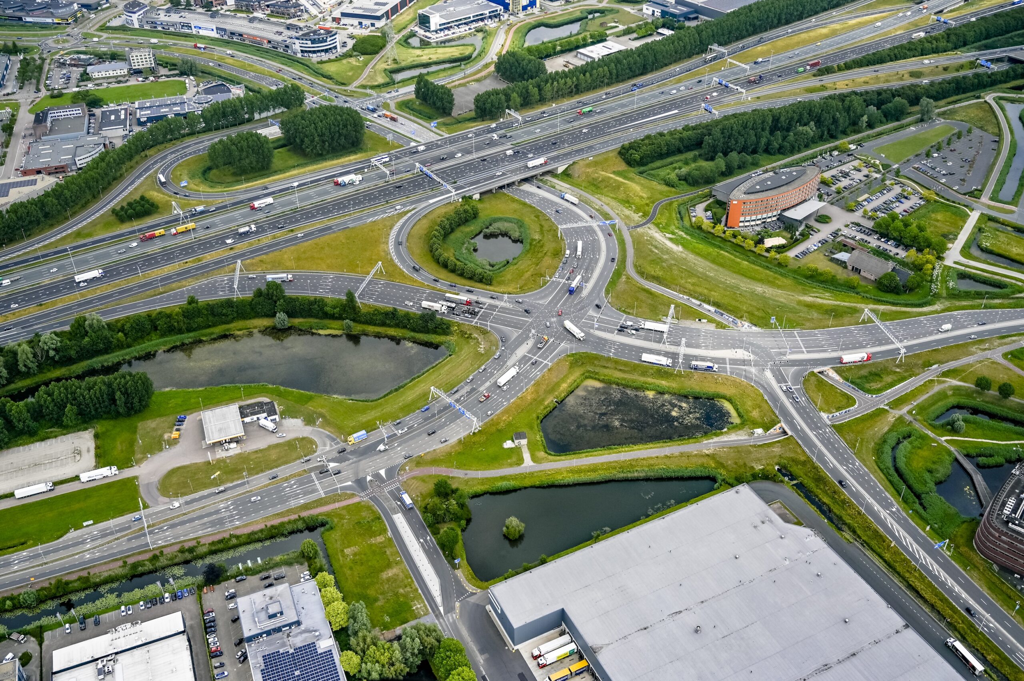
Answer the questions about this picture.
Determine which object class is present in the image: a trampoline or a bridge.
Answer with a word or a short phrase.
bridge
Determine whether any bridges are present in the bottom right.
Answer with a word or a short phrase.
No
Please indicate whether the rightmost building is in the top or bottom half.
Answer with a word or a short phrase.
bottom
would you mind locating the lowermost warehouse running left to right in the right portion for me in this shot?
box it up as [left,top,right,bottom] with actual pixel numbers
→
[489,482,968,681]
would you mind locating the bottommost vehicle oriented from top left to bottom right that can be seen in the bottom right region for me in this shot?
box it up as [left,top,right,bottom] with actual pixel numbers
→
[943,633,989,677]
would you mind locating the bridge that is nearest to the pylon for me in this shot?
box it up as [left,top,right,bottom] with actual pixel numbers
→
[392,125,575,200]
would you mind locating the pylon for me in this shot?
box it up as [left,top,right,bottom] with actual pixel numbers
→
[382,9,401,65]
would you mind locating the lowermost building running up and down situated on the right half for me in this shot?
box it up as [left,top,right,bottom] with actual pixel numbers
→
[973,461,1024,582]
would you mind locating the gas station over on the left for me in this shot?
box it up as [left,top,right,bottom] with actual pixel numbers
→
[201,403,245,447]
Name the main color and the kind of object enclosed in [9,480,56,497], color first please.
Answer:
white vehicle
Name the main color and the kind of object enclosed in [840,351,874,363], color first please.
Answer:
white vehicle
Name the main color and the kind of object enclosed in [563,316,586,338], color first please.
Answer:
white truck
